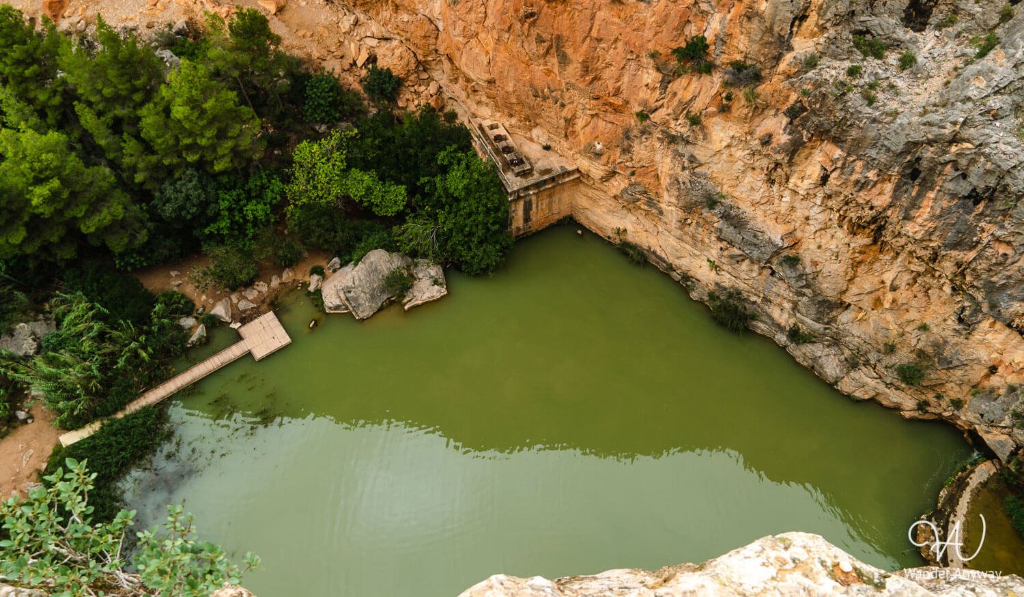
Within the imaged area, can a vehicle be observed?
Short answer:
No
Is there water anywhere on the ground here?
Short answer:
Yes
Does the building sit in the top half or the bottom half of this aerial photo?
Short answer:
top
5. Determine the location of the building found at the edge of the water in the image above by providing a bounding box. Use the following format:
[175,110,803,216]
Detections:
[462,110,576,234]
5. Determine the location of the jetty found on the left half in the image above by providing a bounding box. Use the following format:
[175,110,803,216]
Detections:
[61,311,292,446]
